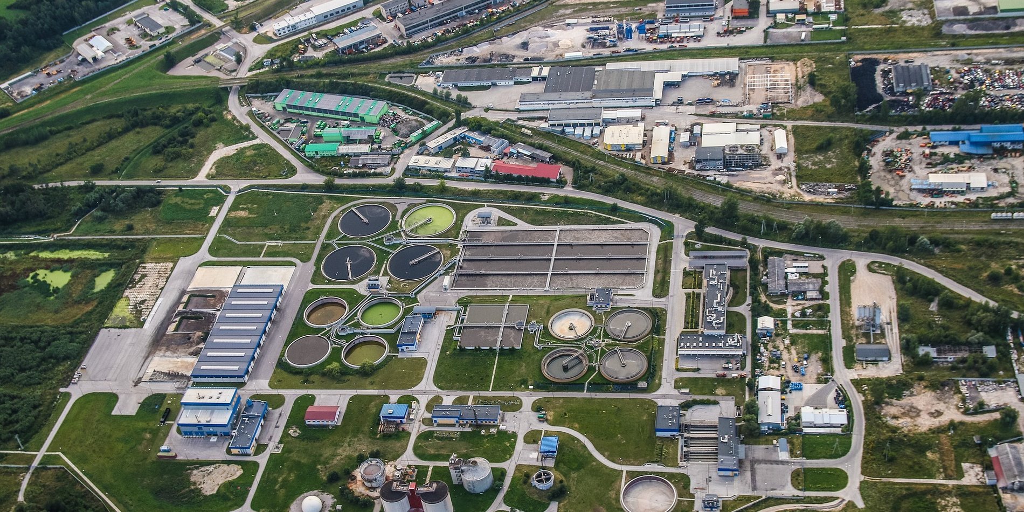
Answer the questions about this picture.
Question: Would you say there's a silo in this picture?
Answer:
Yes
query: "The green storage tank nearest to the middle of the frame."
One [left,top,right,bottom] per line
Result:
[402,203,456,236]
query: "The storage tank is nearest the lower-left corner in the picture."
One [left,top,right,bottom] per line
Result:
[285,335,331,368]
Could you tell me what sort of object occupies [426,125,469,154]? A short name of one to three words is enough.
building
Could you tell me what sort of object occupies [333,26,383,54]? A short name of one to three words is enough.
shed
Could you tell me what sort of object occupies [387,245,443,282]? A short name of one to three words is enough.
storage tank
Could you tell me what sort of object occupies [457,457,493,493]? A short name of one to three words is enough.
silo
